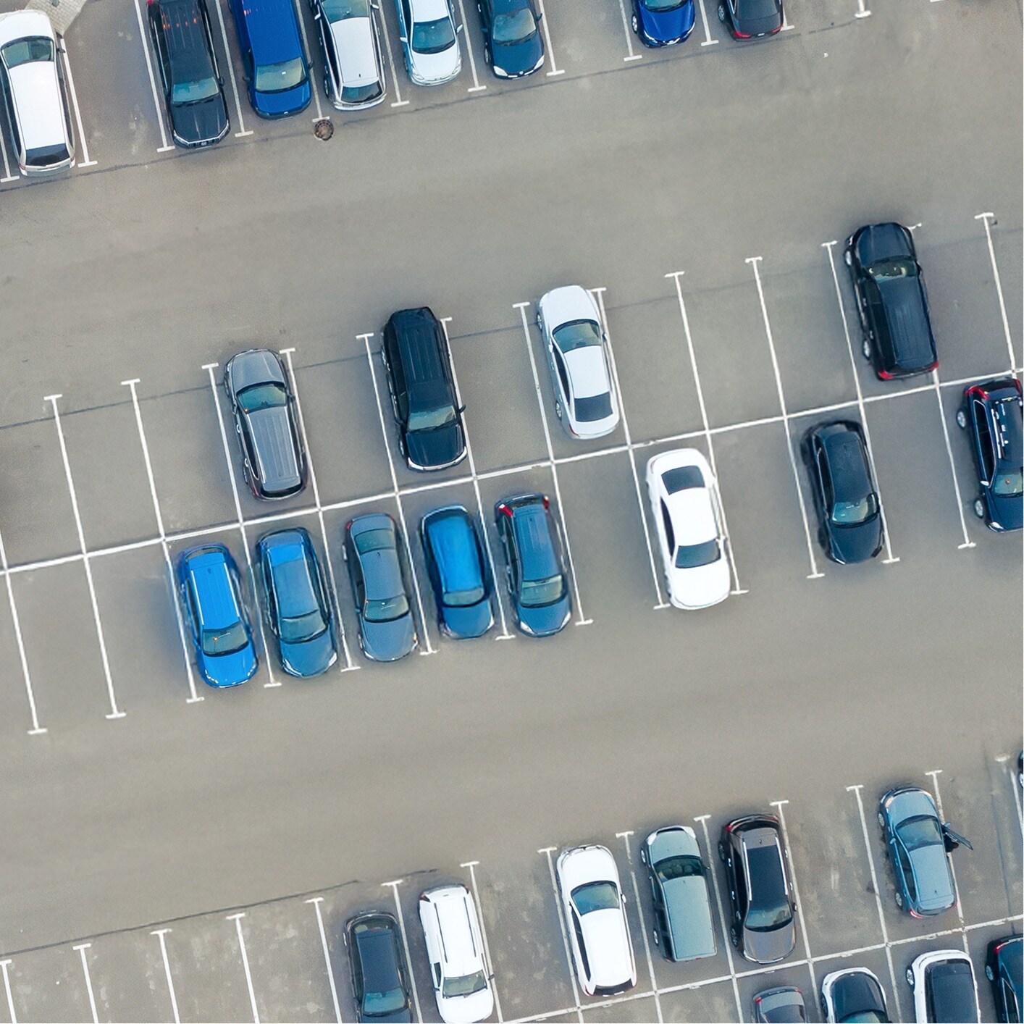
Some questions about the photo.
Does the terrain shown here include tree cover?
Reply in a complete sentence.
No, there's no tree cover in this view.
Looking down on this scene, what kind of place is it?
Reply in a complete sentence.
It's a parking lot.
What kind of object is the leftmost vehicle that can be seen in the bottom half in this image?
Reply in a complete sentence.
I'd identify the leftmost vehicle that can be seen in the bottom half as a car.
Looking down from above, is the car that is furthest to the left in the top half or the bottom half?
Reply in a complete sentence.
Seen from above, the car that is furthest to the left lies in the top half of the view.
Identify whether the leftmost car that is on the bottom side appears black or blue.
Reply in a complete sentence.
The leftmost car that is on the bottom side looks blue in the image.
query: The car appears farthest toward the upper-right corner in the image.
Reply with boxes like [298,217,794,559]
[716,0,782,41]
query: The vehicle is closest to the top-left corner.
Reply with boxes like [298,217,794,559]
[0,9,77,176]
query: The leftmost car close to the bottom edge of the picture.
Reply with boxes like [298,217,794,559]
[346,909,422,1024]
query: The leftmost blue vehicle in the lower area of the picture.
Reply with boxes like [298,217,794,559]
[178,545,254,689]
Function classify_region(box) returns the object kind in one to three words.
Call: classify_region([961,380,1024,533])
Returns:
car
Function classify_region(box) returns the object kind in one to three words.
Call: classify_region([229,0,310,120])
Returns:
van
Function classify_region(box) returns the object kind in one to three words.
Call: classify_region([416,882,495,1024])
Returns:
van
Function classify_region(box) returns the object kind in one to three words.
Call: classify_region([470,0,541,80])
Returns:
car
